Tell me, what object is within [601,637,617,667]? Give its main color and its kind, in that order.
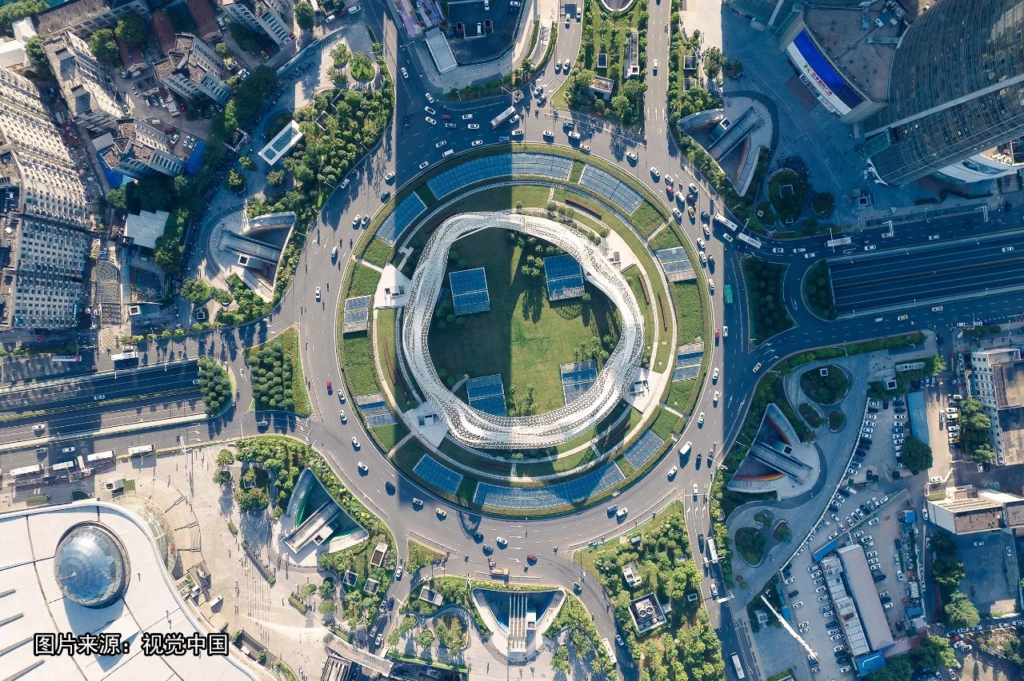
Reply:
white vehicle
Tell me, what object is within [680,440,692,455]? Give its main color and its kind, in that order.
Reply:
white vehicle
